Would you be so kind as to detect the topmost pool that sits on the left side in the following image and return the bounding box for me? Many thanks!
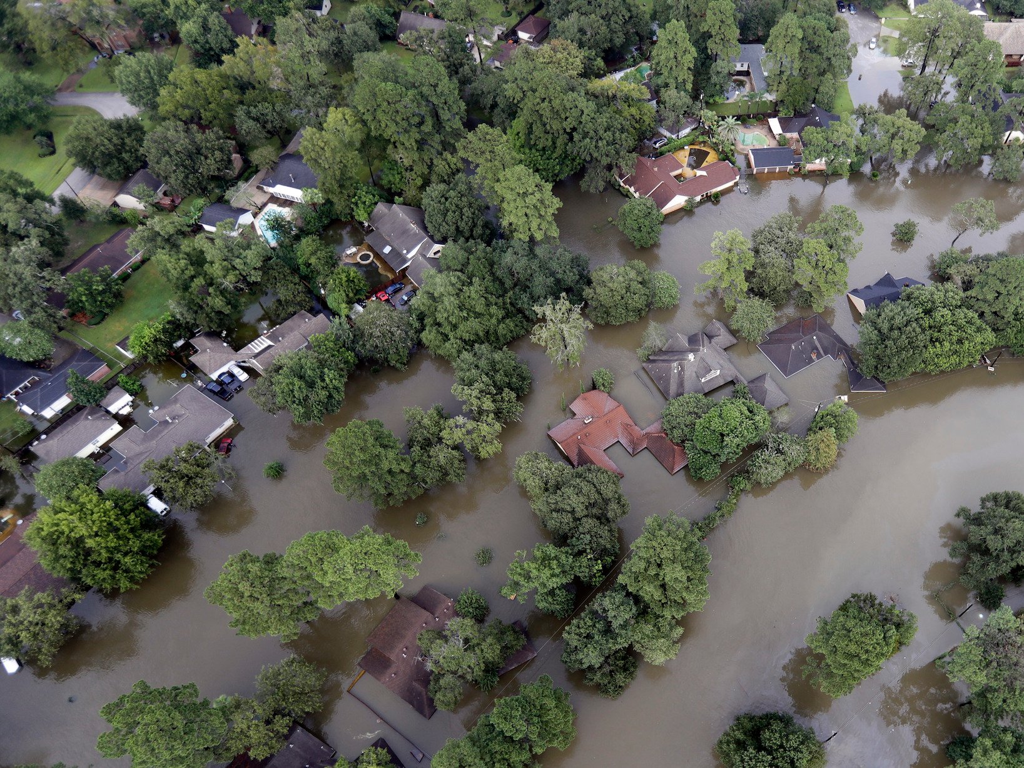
[254,203,296,248]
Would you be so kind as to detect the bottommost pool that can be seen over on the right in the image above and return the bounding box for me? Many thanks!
[738,128,773,148]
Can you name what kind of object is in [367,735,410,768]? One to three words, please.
house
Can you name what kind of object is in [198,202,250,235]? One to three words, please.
building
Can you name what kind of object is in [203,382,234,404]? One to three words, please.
truck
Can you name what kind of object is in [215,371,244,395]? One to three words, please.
truck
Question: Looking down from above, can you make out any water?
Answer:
Yes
